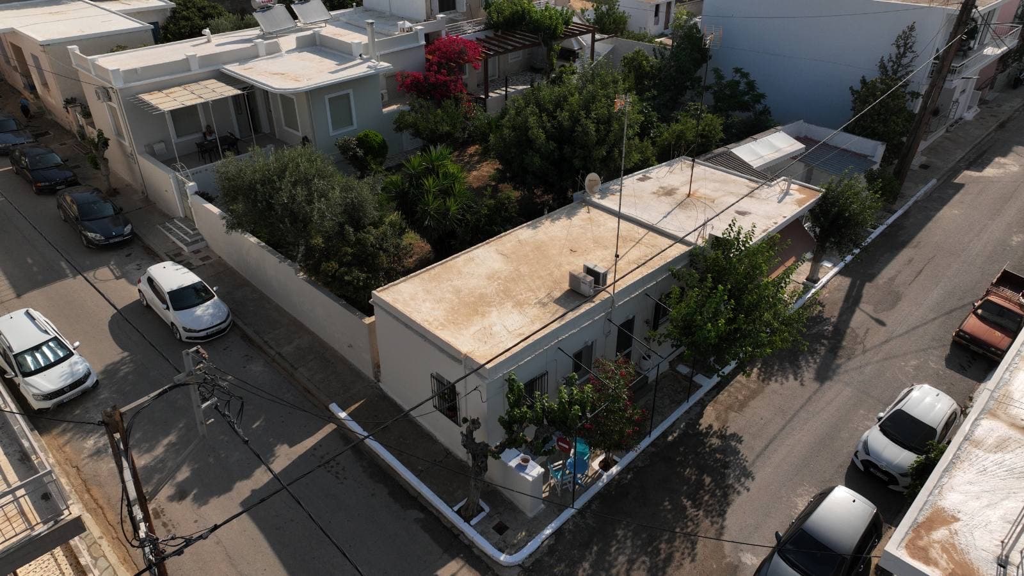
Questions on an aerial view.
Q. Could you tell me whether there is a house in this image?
Yes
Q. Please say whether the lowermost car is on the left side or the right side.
right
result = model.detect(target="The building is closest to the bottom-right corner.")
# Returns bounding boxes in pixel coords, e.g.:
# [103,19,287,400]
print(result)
[880,328,1024,576]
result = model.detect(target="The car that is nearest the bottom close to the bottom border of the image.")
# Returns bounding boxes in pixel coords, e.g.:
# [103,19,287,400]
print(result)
[743,483,889,576]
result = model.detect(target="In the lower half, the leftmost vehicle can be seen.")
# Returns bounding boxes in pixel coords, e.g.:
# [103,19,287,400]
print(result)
[0,298,98,407]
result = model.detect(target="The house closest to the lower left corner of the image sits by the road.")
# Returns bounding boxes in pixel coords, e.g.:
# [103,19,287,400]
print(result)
[0,383,86,576]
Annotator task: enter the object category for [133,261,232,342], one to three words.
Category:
car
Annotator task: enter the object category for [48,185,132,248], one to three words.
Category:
car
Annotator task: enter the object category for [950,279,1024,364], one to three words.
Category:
truck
